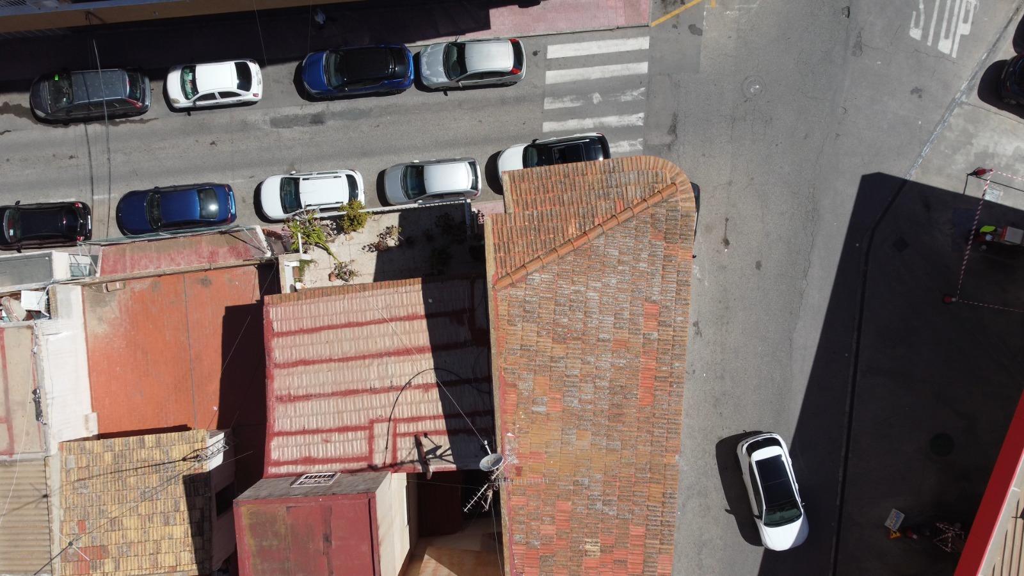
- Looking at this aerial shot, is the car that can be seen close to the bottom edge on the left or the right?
right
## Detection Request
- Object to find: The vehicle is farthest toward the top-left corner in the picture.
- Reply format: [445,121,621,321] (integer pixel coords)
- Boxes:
[29,67,151,127]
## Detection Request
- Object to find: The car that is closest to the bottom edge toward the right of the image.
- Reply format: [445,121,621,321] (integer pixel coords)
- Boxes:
[733,429,809,549]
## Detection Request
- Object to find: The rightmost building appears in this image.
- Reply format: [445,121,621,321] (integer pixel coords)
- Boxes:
[486,154,697,576]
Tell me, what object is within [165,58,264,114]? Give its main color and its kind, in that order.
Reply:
white car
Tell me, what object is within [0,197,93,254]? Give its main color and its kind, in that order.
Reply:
black car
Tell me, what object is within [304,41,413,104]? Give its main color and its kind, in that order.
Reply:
black car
